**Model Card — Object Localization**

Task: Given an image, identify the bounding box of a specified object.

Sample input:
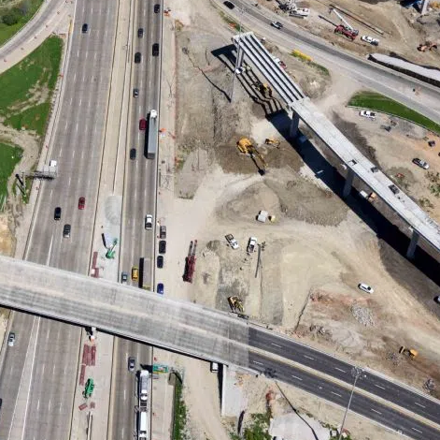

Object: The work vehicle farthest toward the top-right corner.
[406,34,437,51]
